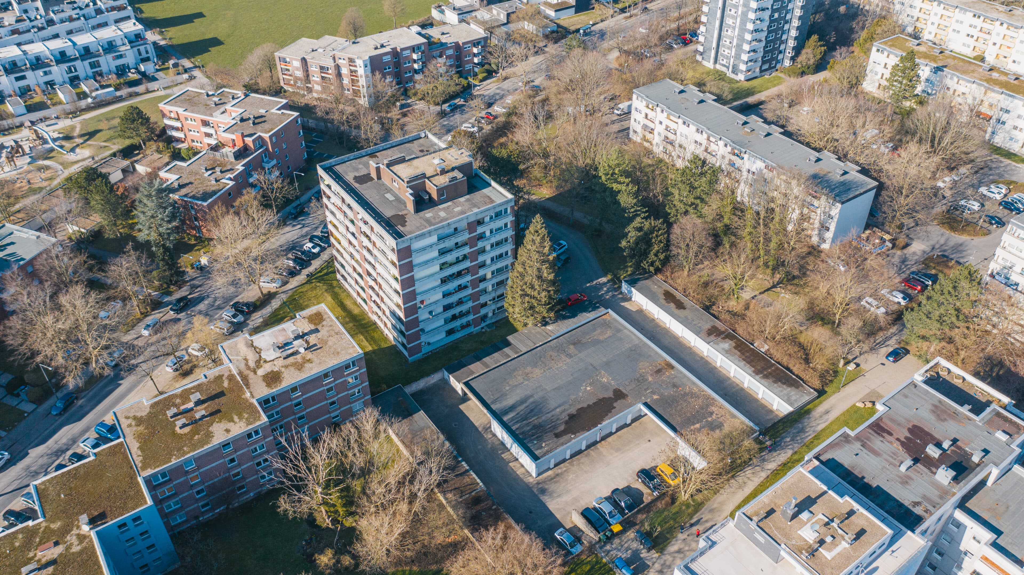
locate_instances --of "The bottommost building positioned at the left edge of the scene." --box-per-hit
[0,303,371,575]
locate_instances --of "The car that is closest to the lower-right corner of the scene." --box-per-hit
[885,346,909,362]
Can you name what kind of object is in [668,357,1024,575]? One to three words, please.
building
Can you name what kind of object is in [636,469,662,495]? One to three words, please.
car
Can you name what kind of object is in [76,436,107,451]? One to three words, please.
car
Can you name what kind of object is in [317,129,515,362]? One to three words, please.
building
